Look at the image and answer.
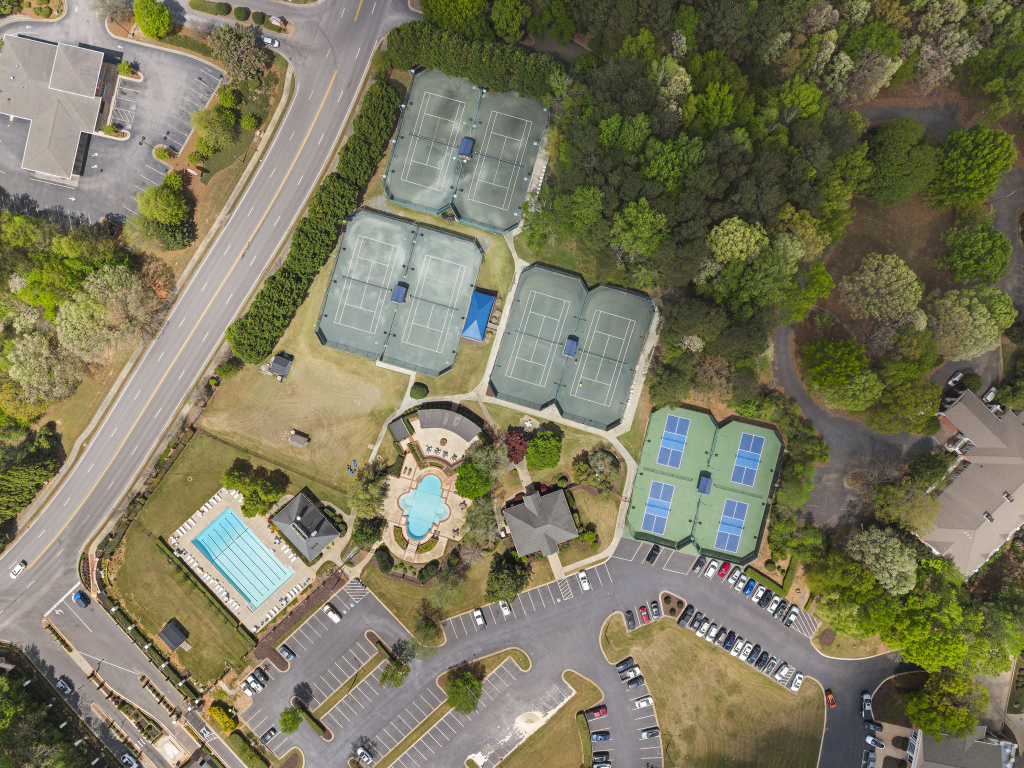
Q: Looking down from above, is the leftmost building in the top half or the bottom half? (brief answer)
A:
top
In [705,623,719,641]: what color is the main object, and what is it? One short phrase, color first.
white car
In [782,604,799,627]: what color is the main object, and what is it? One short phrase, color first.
gray vehicle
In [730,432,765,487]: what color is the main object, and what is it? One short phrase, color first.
blue sports court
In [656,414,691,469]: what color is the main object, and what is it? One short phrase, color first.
blue sports court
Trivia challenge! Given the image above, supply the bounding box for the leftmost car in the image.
[9,561,27,579]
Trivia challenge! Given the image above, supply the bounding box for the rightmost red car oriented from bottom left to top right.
[717,561,732,579]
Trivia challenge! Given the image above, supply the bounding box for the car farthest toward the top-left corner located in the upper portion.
[262,36,282,49]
